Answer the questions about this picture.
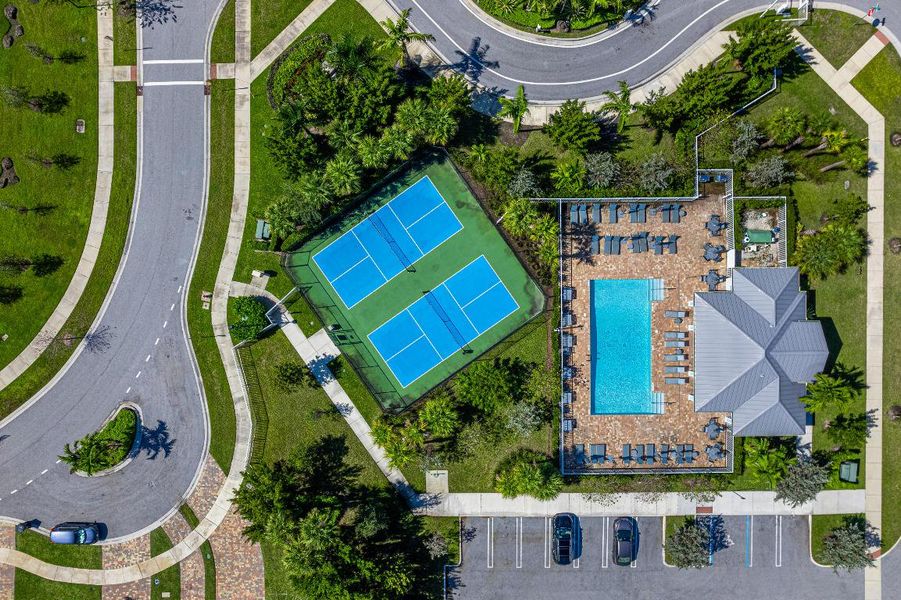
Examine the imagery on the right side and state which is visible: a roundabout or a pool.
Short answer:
pool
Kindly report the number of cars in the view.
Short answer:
3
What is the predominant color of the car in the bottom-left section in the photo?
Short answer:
blue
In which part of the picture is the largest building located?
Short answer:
right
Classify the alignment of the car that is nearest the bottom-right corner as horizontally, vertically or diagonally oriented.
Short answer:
vertically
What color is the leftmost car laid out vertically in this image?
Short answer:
black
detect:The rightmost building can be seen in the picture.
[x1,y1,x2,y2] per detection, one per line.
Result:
[690,267,831,435]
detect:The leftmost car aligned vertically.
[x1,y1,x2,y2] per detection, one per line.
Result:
[550,509,575,564]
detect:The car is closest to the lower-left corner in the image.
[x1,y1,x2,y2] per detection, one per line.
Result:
[49,522,103,548]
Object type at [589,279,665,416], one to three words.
swimming pool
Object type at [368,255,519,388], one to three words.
sports court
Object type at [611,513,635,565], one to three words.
car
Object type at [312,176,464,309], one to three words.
sports court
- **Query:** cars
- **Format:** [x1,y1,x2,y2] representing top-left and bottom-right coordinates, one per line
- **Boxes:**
[611,513,635,565]
[49,522,103,548]
[550,509,575,564]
